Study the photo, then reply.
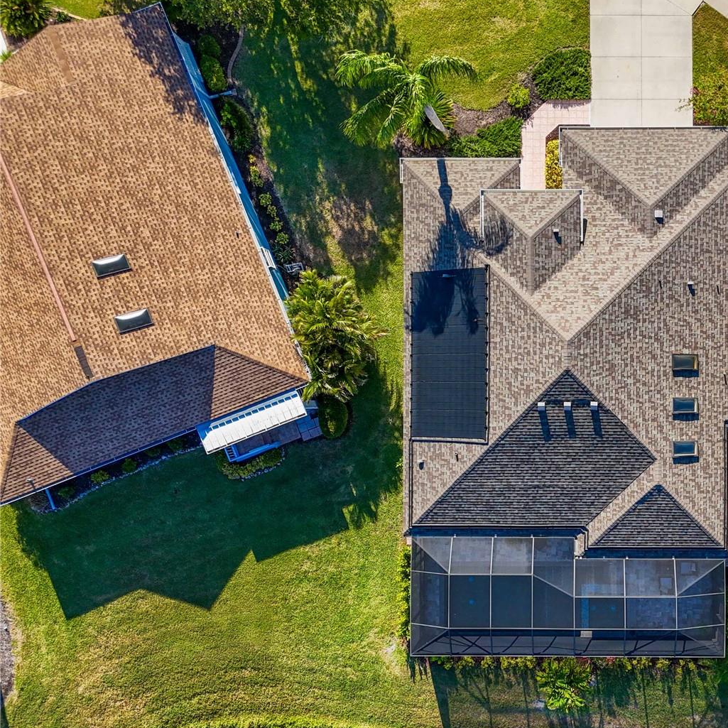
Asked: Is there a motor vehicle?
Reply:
No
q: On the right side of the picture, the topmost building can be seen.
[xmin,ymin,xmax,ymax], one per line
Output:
[400,125,728,556]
